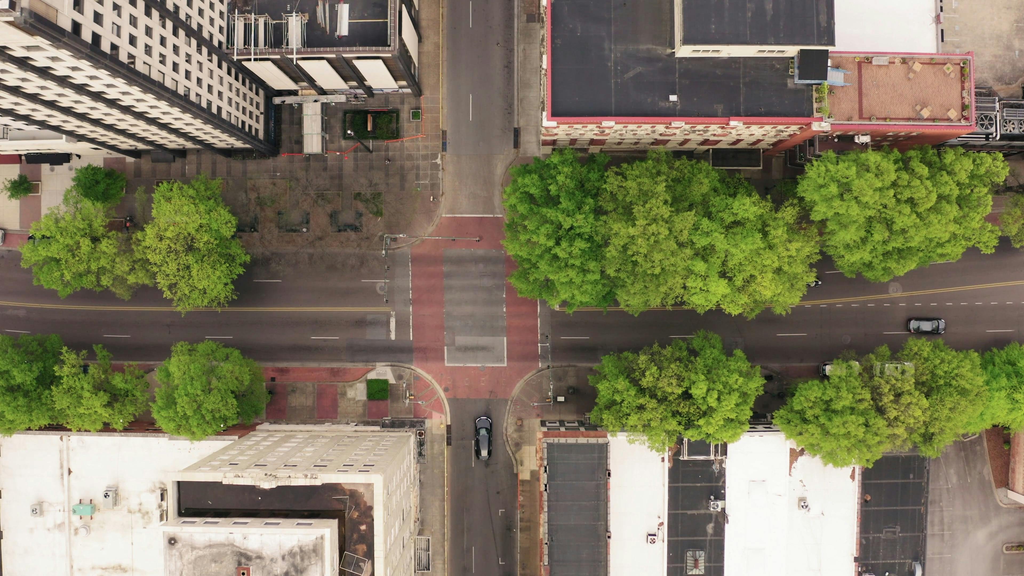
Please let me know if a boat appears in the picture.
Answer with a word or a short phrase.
No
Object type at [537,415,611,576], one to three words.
building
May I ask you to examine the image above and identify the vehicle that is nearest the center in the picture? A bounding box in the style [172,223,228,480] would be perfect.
[474,417,493,460]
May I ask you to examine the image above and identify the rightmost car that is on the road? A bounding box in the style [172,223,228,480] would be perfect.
[906,317,946,335]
